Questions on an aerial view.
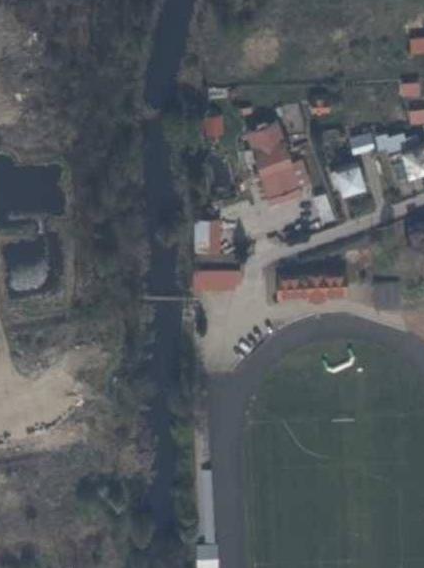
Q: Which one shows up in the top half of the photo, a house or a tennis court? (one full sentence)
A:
The feature located in the top half of the photo is a house.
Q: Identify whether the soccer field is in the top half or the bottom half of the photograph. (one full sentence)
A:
Seen from above, the soccer field lies in the bottom half of the view.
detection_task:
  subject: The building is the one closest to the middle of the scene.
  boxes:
[192,270,243,291]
